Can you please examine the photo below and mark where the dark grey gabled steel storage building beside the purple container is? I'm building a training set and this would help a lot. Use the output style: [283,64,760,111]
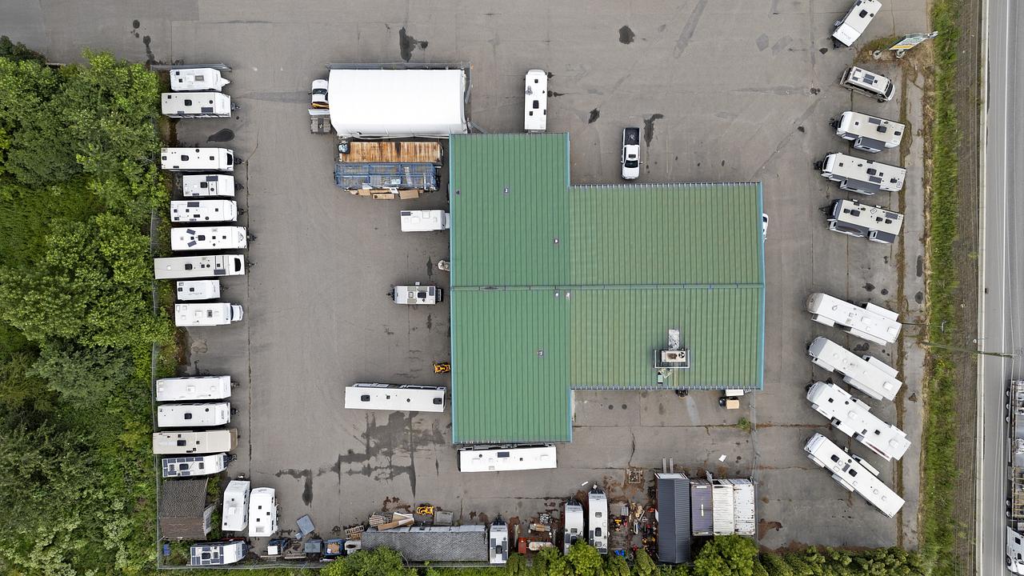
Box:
[655,474,690,564]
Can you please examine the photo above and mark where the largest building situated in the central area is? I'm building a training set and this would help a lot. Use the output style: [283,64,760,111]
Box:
[449,132,765,445]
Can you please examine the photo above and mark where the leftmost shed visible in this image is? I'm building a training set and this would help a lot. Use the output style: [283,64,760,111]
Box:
[160,477,210,539]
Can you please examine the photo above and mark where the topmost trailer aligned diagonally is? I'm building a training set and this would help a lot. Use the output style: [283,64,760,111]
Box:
[829,0,881,47]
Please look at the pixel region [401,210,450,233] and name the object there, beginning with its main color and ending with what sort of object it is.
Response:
white camper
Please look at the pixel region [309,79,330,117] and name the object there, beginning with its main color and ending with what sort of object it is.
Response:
white truck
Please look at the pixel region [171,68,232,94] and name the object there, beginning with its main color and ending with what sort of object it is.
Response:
white trailer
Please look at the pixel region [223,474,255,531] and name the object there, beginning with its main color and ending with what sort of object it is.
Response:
white trailer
